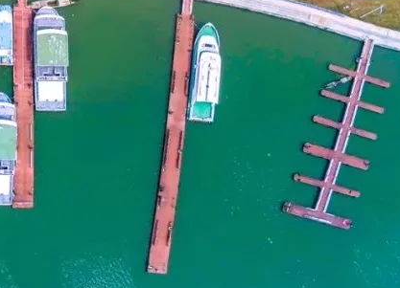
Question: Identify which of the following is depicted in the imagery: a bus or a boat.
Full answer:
It is a boat that can be seen here.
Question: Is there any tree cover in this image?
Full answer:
No, the scene doesn't show any tree cover.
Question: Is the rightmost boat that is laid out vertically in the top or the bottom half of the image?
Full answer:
Seen from above, the rightmost boat that is laid out vertically lies in the top half of the view.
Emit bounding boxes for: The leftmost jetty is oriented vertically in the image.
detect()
[12,0,34,208]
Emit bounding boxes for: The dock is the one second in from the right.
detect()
[147,0,195,273]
